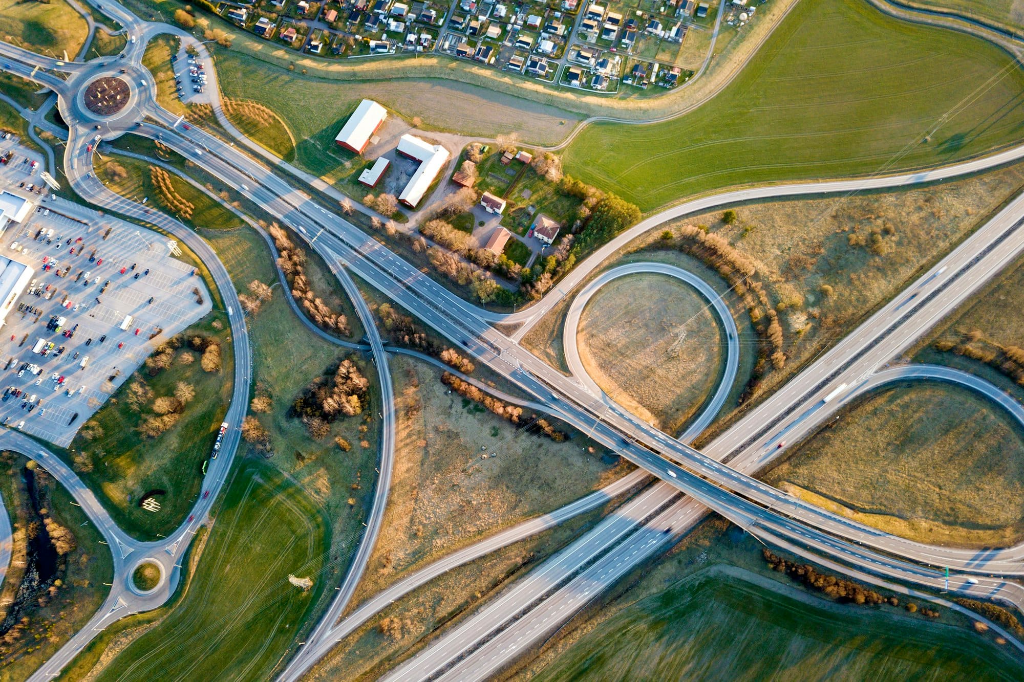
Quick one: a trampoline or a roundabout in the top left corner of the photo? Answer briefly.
roundabout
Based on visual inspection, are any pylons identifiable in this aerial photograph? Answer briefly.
Yes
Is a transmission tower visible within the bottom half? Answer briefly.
Yes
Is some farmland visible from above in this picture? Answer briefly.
Yes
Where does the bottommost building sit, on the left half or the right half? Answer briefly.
left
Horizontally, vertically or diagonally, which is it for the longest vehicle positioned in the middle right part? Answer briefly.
diagonally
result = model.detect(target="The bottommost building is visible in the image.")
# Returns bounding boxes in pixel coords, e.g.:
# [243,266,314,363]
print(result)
[0,254,35,326]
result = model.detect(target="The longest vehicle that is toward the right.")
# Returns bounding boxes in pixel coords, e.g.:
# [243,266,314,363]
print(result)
[821,383,846,403]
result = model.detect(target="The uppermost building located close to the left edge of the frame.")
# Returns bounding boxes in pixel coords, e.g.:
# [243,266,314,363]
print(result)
[0,189,34,242]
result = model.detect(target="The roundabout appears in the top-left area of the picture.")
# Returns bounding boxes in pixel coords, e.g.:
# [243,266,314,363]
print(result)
[59,40,155,152]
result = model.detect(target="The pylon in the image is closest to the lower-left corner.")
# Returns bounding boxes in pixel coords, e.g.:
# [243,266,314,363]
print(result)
[289,569,313,594]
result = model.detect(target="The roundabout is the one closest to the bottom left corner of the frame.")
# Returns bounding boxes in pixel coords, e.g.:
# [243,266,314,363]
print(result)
[92,520,195,630]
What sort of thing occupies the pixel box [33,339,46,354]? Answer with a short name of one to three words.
vehicle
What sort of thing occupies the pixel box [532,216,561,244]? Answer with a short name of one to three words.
house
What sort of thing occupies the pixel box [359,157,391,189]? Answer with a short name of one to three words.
shed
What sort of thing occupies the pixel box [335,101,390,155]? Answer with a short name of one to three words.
barn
